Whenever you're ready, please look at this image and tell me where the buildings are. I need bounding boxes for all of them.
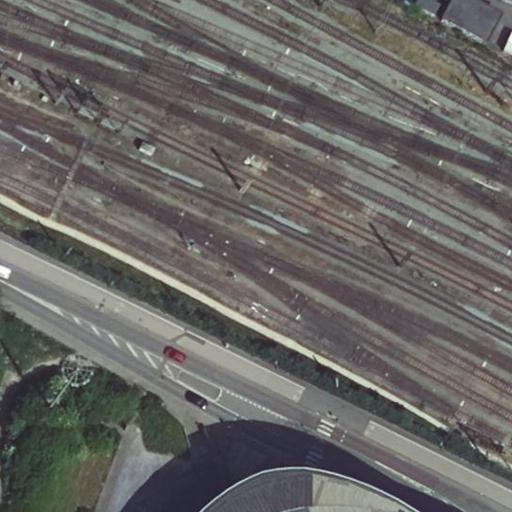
[199,467,418,512]
[500,26,512,66]
[138,142,156,158]
[446,0,503,44]
[410,0,443,16]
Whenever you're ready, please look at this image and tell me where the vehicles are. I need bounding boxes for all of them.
[185,390,208,408]
[162,346,186,363]
[0,264,12,280]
